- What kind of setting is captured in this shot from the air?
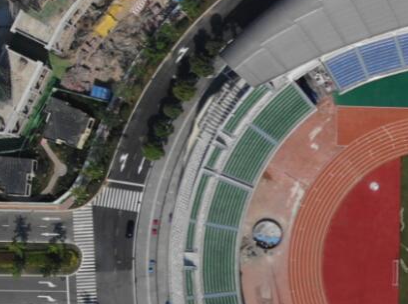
sports ground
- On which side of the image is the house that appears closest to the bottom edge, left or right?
left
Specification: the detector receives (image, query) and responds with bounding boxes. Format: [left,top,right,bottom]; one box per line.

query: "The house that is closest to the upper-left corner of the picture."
[43,97,105,151]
